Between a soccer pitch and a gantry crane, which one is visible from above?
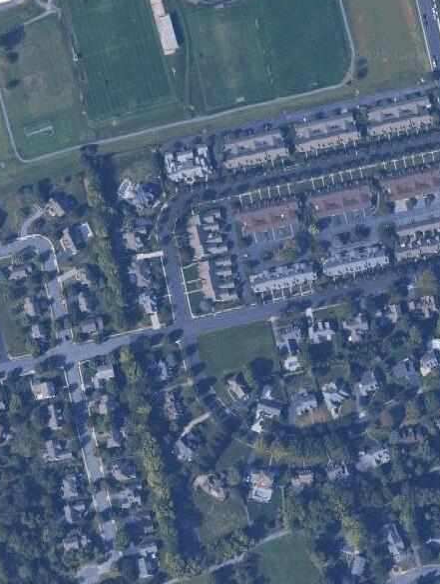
soccer pitch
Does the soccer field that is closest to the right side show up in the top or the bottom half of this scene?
top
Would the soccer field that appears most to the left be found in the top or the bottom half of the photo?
top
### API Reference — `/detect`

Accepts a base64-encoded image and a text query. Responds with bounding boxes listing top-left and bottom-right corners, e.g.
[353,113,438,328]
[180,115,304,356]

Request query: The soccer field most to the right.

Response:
[254,0,349,93]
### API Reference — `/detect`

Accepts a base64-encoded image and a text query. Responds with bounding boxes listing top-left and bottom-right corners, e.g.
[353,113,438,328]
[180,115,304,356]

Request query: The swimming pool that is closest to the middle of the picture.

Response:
[283,354,300,372]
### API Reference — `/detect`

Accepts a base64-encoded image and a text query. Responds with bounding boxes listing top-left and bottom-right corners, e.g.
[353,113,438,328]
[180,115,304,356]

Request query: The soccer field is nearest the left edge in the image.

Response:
[61,0,181,130]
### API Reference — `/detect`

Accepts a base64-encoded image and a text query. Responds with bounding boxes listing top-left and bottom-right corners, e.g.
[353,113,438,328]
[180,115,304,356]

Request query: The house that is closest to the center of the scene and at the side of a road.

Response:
[199,259,240,302]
